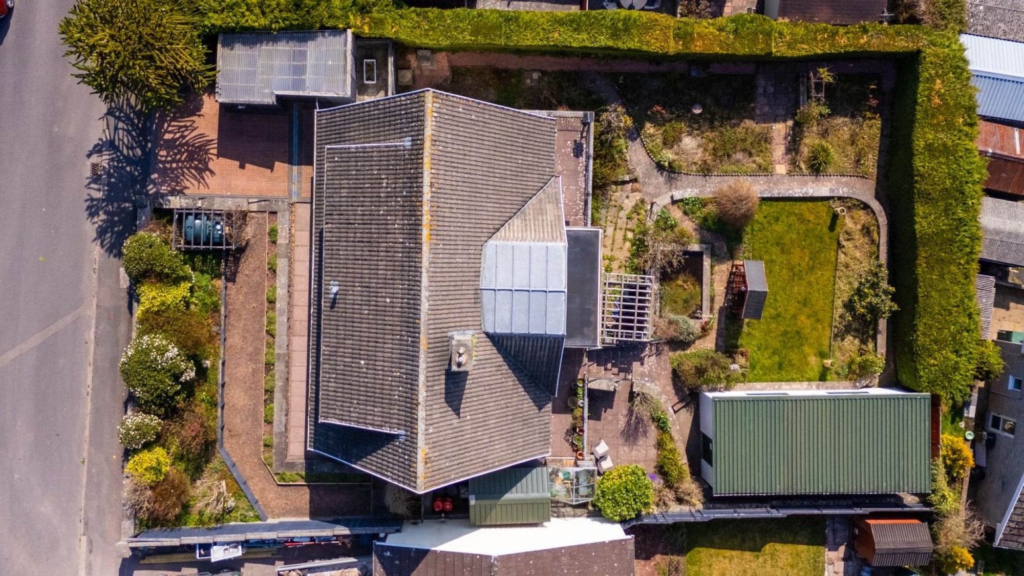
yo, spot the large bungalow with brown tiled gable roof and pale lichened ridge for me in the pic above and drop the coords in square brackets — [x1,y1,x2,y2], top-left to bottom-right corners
[306,87,604,495]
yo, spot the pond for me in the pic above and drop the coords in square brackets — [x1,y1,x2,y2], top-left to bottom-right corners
[653,244,711,350]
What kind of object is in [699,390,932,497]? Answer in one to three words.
building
